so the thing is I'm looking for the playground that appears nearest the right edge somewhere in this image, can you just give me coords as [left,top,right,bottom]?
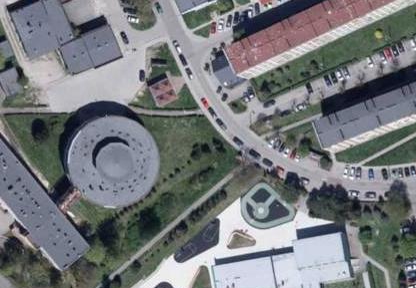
[241,183,296,228]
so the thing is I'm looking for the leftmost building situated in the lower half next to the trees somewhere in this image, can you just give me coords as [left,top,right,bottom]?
[0,126,99,272]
